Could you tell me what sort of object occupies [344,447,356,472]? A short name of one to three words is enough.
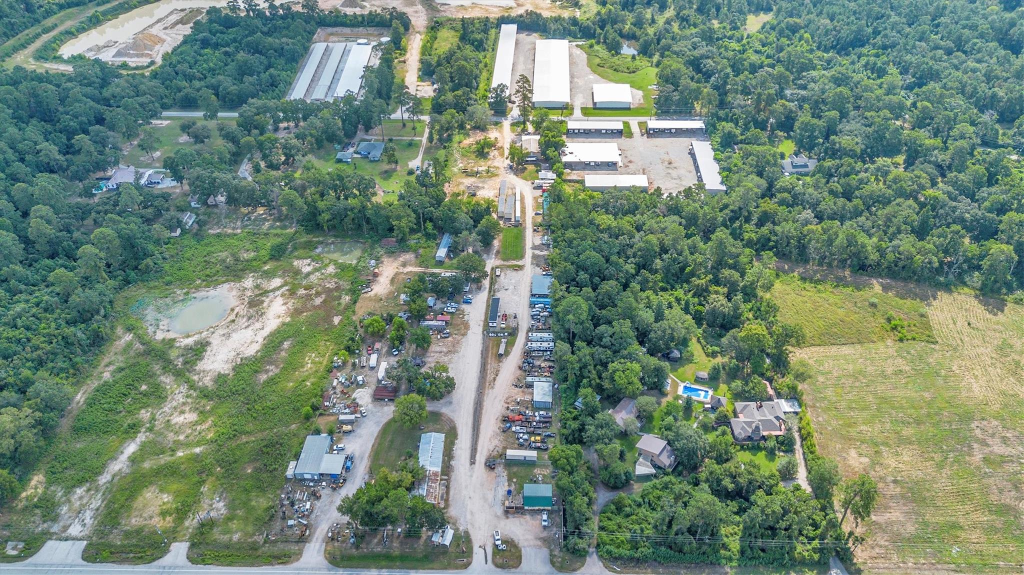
vehicle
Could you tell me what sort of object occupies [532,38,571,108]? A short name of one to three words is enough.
building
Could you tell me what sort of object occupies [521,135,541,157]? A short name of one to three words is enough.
barn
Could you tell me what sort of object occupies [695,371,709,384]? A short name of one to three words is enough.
gazebo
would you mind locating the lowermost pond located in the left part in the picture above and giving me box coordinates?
[166,287,237,334]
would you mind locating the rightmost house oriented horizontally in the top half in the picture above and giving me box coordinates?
[779,156,820,177]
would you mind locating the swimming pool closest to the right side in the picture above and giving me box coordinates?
[681,385,711,400]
